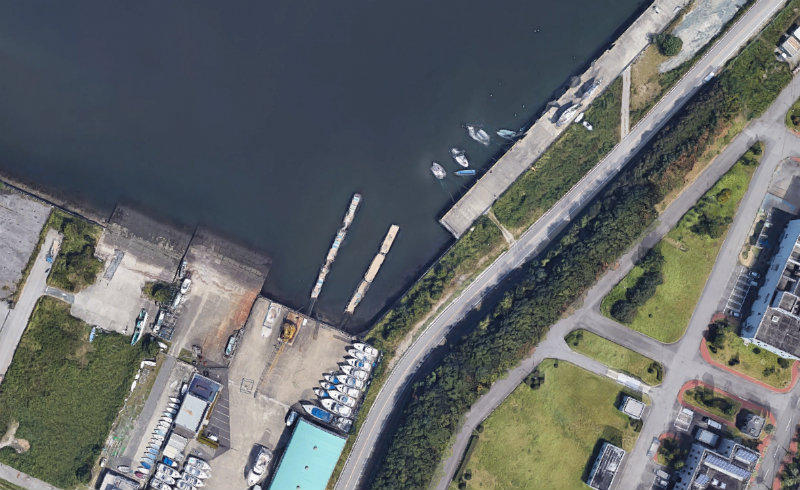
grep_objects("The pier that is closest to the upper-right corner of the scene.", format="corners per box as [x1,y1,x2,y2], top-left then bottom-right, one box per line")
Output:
[440,0,691,238]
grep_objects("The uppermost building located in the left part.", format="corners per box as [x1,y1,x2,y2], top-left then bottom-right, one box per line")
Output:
[185,373,227,409]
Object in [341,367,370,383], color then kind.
white boat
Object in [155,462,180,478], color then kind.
white boat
